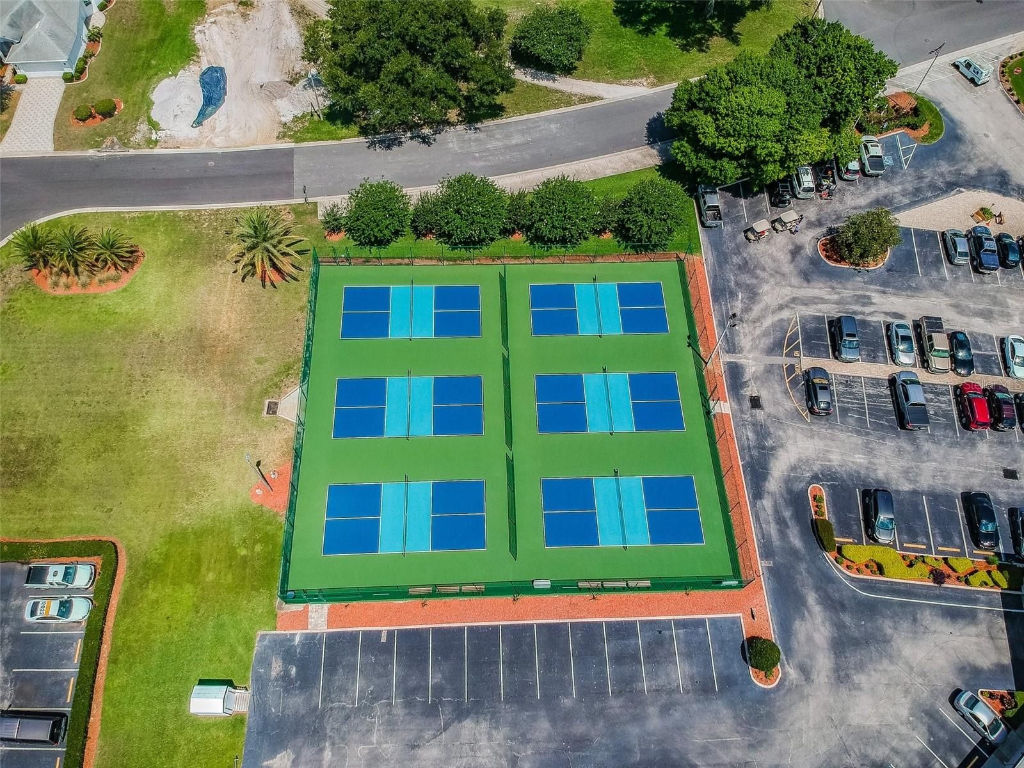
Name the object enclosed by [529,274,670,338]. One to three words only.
sports court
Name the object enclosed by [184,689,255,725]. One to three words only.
shed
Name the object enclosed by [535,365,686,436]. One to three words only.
sports court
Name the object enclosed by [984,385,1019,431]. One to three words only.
car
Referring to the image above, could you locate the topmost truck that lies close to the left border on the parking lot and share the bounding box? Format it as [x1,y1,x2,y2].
[20,560,98,590]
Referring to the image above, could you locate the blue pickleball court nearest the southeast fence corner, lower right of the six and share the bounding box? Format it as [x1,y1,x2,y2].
[541,469,705,550]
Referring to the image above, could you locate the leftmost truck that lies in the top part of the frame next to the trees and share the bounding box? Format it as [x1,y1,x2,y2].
[698,182,725,224]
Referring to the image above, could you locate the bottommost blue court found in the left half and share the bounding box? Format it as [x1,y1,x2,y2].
[322,474,486,557]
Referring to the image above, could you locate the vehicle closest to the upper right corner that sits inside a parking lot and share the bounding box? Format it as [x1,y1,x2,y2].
[951,55,997,86]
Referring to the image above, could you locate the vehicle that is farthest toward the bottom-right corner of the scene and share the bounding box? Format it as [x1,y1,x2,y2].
[950,686,1011,750]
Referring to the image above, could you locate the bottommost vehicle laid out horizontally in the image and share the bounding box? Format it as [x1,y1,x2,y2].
[0,713,67,747]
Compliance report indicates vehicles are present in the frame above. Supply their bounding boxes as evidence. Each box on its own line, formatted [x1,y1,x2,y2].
[834,314,863,363]
[769,172,791,206]
[969,226,1002,274]
[948,331,977,377]
[967,492,1003,550]
[861,134,886,175]
[951,55,997,86]
[888,320,918,367]
[805,367,832,416]
[698,182,725,224]
[950,686,1011,750]
[943,231,975,265]
[895,371,932,429]
[0,713,67,747]
[1012,506,1024,556]
[958,383,992,431]
[994,232,1022,266]
[20,560,98,590]
[774,211,802,235]
[919,315,952,373]
[814,160,838,194]
[1014,393,1024,438]
[22,594,93,623]
[984,385,1019,431]
[868,489,901,543]
[792,158,816,197]
[746,219,774,243]
[1004,334,1024,379]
